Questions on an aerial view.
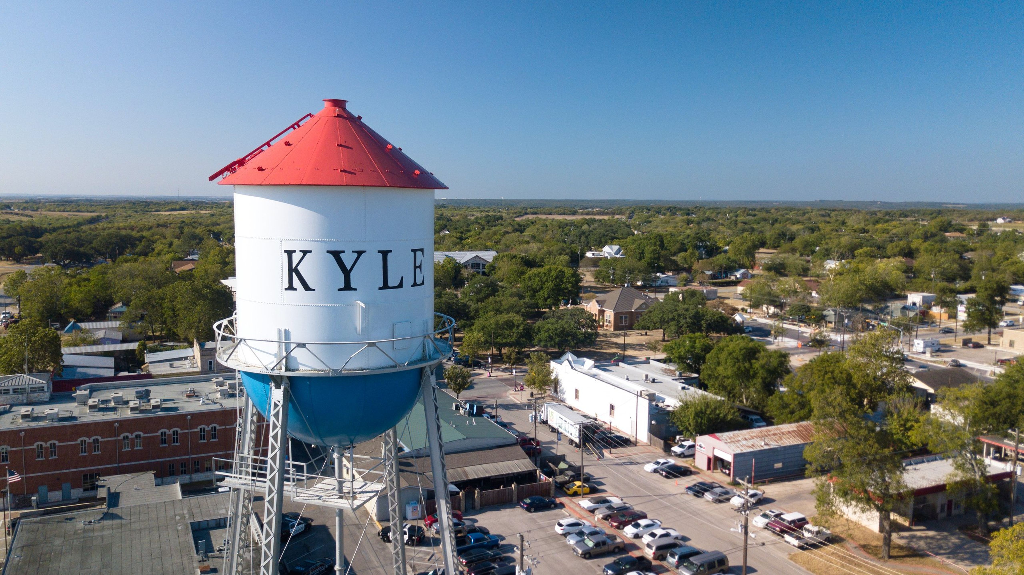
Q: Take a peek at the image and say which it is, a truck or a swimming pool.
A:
truck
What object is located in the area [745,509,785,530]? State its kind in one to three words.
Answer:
car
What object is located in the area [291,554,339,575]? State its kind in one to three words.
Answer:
car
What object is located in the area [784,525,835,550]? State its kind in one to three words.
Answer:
truck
